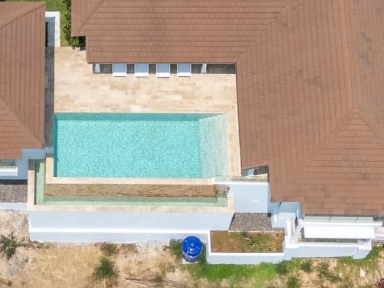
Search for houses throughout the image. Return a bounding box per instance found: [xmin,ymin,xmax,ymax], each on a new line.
[69,0,384,269]
[0,0,46,186]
